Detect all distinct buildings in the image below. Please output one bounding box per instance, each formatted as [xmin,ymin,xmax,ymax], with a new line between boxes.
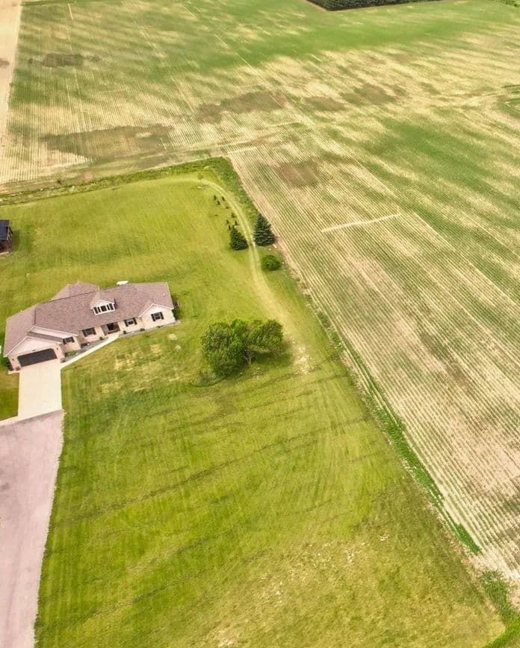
[0,272,179,374]
[0,216,12,254]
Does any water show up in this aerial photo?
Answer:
No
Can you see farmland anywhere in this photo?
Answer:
Yes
